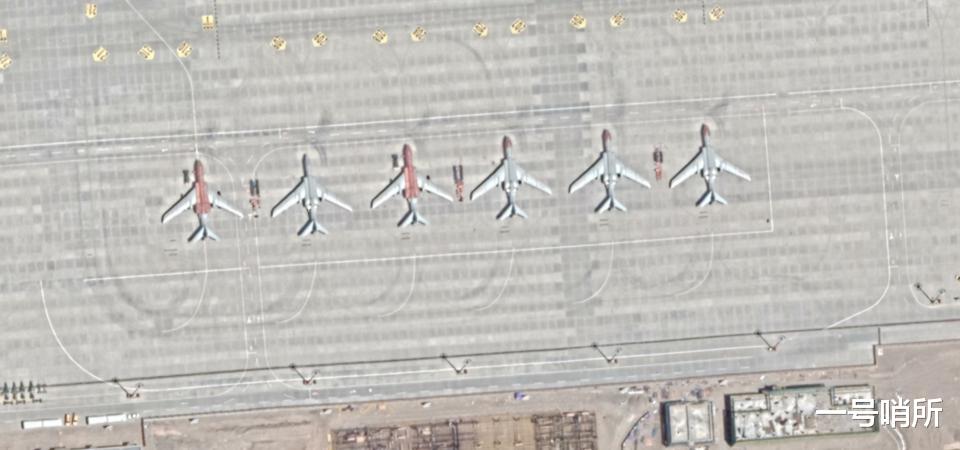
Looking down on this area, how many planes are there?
6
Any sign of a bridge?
No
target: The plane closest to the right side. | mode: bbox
[670,124,747,205]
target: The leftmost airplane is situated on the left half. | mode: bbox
[163,159,241,242]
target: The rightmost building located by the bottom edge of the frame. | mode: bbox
[727,387,878,446]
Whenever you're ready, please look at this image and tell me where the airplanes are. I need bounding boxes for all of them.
[570,129,648,211]
[372,144,450,226]
[670,124,747,205]
[471,135,548,218]
[163,159,241,242]
[270,154,348,236]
